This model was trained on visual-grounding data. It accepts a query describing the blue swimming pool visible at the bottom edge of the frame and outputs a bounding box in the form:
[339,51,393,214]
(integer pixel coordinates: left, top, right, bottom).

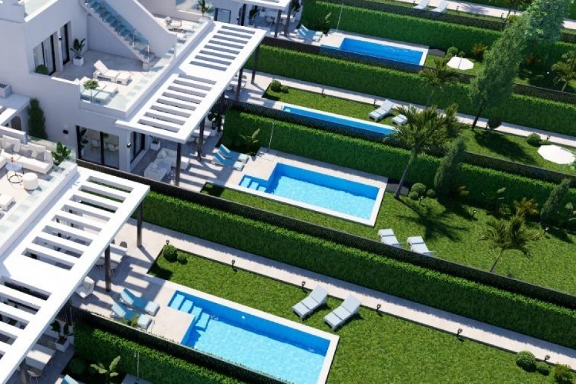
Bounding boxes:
[145,273,339,384]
